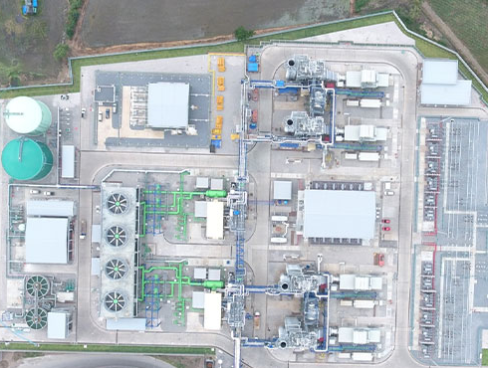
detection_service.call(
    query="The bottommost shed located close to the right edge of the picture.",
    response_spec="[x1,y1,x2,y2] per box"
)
[418,81,472,108]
